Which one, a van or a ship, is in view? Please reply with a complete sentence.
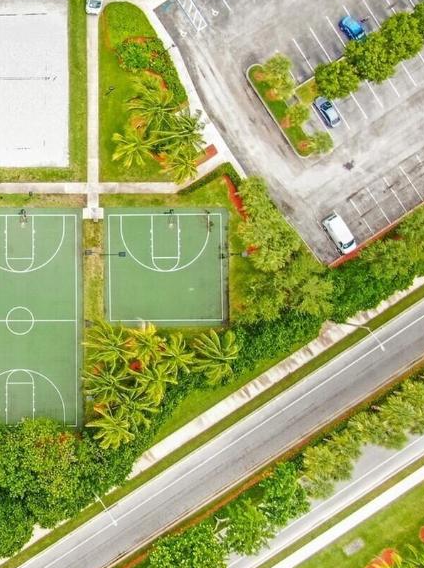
Visible in the photo is a van.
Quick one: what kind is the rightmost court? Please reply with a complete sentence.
It looks like the rightmost court is a basketball court.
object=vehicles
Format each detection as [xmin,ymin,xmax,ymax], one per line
[321,213,354,251]
[312,96,341,130]
[86,0,102,13]
[337,11,365,42]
